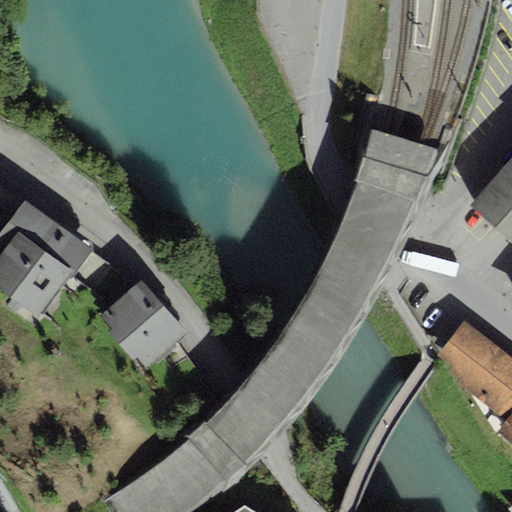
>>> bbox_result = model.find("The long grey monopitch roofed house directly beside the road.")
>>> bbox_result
[11,201,92,274]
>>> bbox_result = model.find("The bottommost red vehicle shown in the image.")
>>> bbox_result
[465,212,481,230]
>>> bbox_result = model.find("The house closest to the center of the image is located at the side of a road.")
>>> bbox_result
[98,282,185,370]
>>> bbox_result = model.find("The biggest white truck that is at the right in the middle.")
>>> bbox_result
[401,250,460,276]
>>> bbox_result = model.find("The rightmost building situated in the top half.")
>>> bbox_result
[471,157,512,231]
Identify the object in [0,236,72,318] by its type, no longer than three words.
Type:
house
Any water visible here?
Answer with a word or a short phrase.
Yes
